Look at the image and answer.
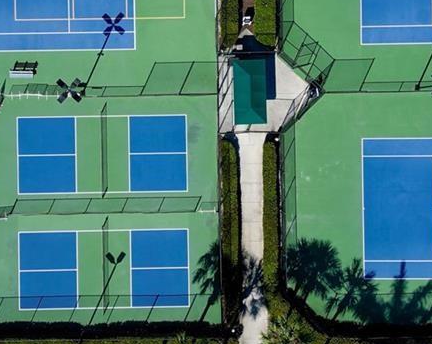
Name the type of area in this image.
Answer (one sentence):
This image shows a sports ground.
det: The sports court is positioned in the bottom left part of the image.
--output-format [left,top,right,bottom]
[19,229,190,310]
